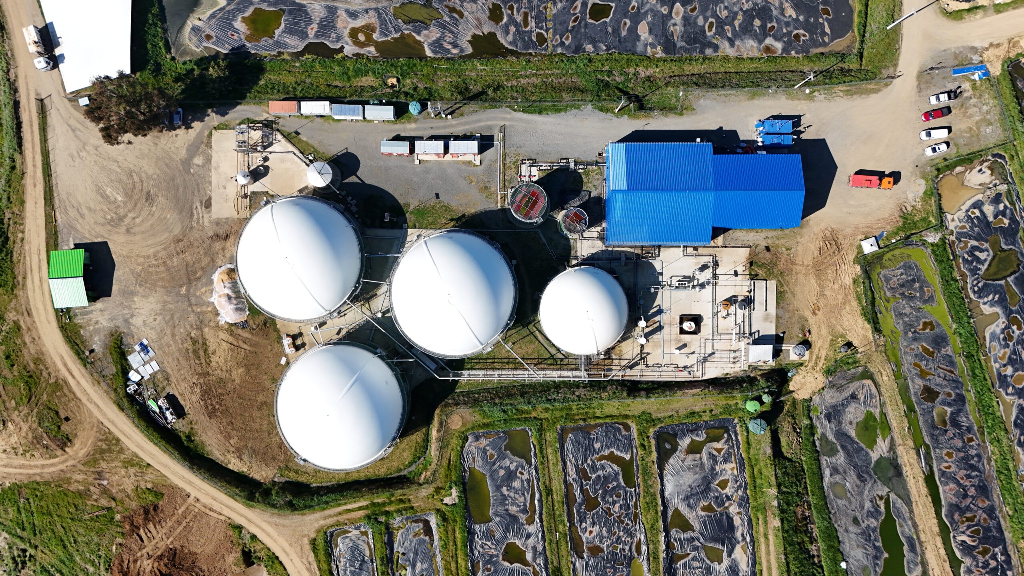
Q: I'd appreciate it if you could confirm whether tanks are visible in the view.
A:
Yes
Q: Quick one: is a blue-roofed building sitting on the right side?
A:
Yes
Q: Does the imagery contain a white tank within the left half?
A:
Yes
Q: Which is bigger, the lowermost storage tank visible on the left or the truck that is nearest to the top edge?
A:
the storage tank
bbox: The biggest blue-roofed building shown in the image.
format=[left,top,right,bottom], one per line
[606,142,804,244]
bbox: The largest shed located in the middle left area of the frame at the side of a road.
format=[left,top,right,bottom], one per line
[49,249,94,308]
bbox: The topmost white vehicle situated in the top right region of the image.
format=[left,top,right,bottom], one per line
[926,91,955,105]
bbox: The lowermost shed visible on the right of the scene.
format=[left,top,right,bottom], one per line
[746,345,773,362]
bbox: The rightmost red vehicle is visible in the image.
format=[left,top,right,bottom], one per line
[920,108,949,123]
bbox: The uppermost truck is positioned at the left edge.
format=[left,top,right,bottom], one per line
[23,22,57,71]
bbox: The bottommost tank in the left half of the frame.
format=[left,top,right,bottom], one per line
[273,342,407,474]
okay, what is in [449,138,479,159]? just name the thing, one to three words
building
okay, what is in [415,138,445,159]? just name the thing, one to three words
building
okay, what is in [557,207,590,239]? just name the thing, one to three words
storage tank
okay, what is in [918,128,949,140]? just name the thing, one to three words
vehicle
